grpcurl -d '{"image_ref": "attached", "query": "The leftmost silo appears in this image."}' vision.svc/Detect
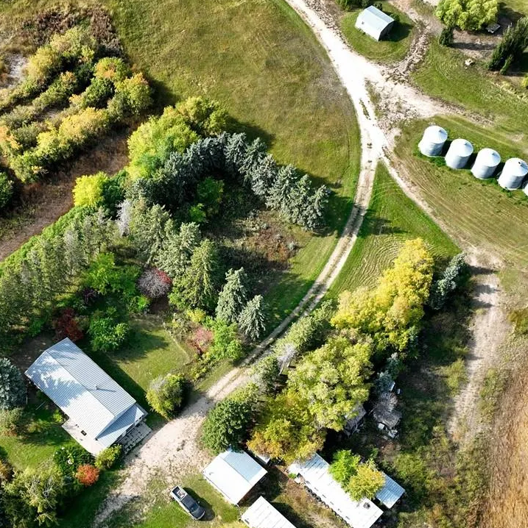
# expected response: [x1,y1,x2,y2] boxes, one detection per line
[418,124,447,158]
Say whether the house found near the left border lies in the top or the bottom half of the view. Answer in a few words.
bottom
